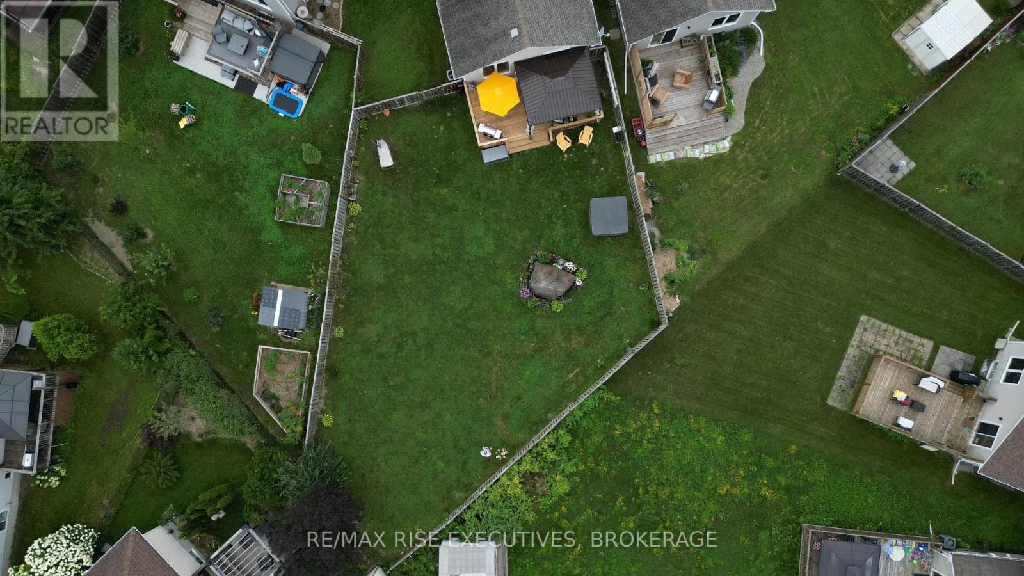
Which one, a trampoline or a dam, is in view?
trampoline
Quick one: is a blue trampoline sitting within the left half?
Yes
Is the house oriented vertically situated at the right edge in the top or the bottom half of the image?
bottom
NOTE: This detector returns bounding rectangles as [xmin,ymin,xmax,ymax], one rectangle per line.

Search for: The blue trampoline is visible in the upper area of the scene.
[269,89,303,119]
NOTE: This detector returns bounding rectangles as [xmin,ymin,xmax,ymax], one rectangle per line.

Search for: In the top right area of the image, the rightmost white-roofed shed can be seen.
[904,0,1000,70]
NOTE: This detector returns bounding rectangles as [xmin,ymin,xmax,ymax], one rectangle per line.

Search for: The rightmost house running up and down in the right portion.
[959,348,1024,494]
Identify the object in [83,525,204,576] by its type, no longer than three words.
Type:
house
